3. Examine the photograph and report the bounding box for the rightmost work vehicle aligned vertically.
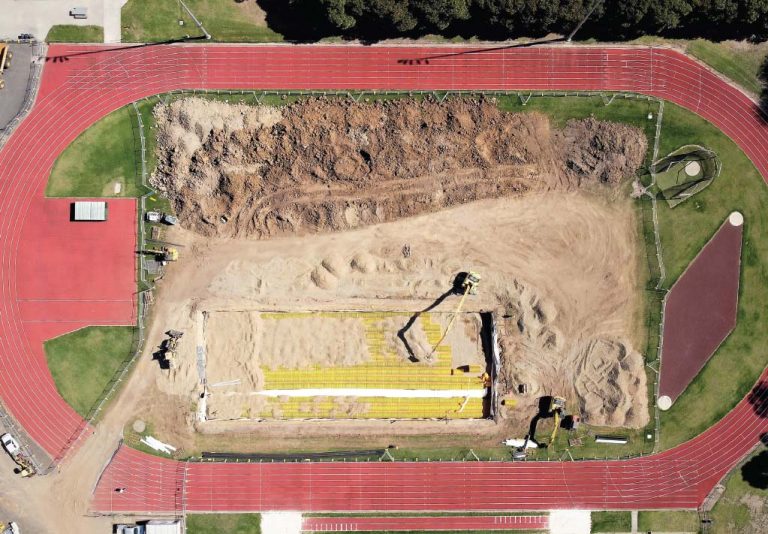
[546,394,569,447]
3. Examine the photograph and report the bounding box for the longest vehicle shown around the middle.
[425,270,483,361]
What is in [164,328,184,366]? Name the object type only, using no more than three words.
work vehicle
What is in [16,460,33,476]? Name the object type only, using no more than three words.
work vehicle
